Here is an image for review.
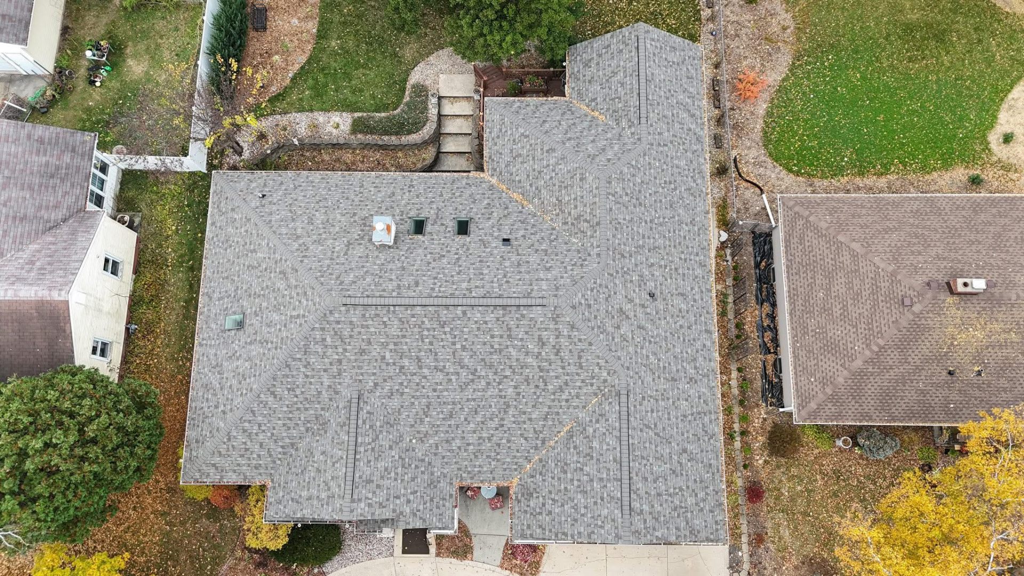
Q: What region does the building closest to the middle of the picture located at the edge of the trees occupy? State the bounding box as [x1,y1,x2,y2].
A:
[178,22,729,547]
